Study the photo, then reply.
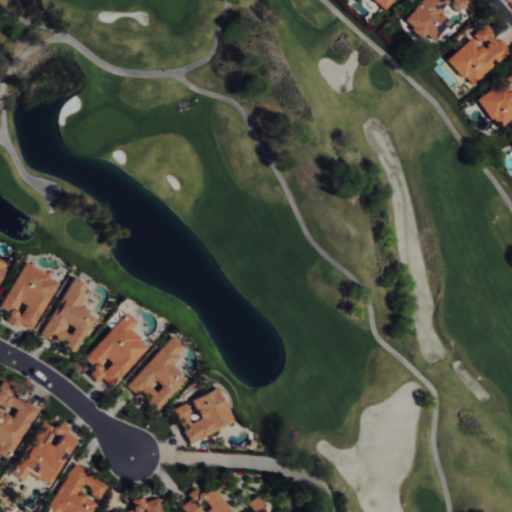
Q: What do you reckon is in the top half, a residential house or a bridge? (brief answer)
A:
residential house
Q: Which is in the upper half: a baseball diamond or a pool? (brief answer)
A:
pool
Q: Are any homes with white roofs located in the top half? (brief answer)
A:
No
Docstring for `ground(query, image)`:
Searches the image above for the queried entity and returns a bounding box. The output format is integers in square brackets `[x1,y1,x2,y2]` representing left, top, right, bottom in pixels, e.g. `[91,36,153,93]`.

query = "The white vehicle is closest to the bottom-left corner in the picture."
[33,370,53,388]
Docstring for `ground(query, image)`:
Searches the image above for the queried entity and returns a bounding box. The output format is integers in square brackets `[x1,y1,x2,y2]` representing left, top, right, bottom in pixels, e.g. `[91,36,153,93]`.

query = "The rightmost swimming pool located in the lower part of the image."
[227,432,249,446]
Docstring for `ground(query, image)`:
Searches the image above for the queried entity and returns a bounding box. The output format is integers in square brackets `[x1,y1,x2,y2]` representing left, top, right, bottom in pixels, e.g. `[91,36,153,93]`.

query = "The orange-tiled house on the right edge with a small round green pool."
[478,73,512,126]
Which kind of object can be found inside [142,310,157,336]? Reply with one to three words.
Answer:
swimming pool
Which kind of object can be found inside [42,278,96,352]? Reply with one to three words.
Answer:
house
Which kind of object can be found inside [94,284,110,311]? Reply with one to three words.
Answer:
swimming pool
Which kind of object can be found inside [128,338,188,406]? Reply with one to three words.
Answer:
house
